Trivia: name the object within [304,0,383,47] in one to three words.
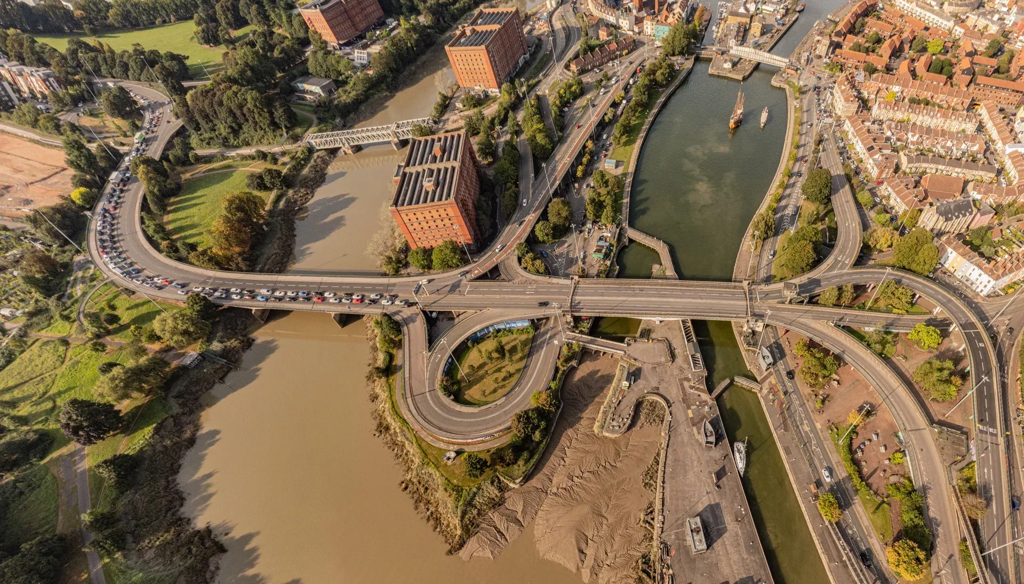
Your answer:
building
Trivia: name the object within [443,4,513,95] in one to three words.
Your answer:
building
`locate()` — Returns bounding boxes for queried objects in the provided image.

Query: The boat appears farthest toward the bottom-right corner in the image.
[735,441,748,476]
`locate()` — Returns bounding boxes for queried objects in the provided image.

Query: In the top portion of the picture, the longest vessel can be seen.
[727,81,747,130]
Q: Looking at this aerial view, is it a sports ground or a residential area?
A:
residential area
